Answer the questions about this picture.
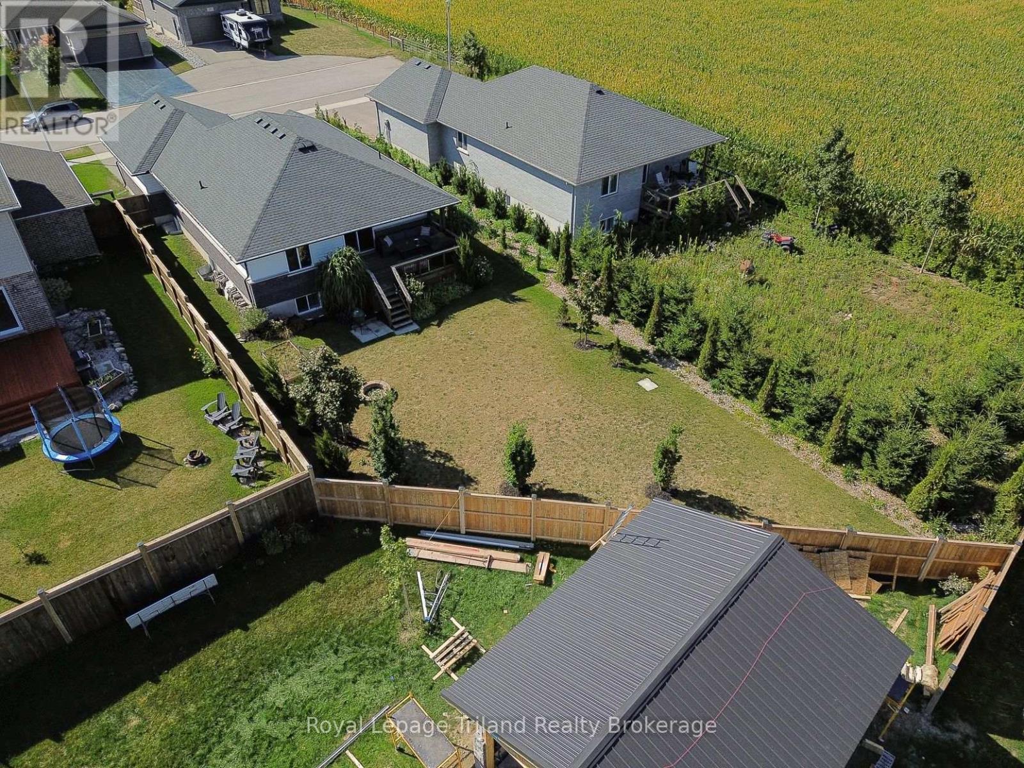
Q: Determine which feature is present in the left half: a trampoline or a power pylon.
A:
trampoline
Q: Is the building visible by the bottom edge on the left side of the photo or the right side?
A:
right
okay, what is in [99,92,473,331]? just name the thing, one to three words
house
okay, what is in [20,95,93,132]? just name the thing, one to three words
car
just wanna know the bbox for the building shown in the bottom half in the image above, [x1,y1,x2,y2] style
[440,497,913,768]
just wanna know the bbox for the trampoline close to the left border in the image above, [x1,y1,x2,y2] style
[17,371,125,475]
